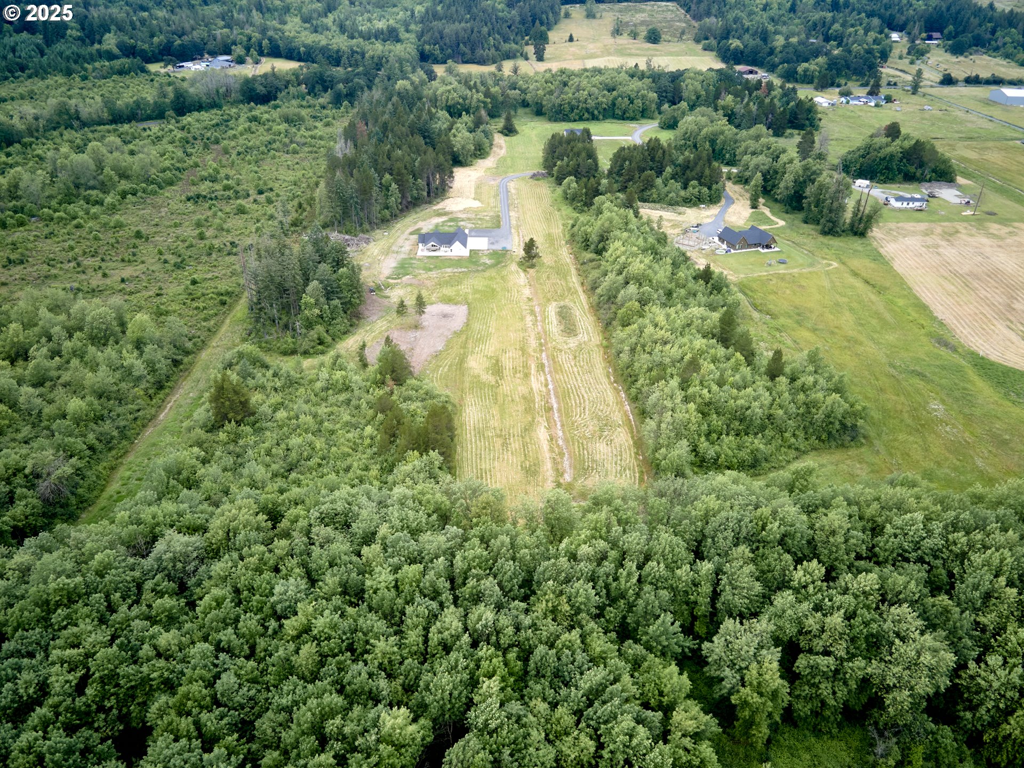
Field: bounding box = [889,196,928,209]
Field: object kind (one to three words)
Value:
house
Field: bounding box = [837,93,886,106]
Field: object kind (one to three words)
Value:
house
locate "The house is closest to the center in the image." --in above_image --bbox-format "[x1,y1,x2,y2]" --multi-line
[416,225,474,256]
